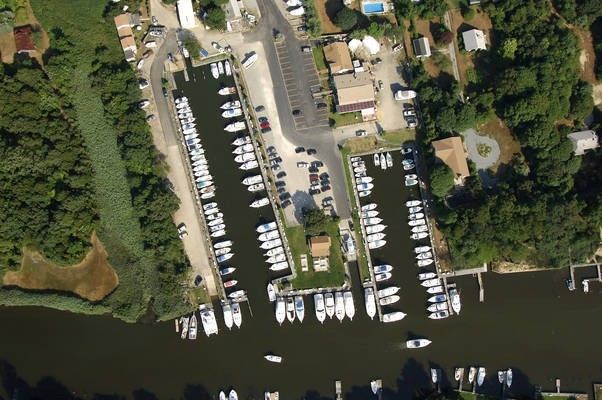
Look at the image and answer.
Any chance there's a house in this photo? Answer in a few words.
Yes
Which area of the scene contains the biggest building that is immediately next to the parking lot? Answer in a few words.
top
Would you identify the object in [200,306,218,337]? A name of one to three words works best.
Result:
boat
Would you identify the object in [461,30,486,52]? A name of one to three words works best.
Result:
house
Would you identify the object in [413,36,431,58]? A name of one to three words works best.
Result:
house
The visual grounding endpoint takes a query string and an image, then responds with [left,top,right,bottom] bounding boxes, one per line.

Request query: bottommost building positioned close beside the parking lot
[334,75,375,114]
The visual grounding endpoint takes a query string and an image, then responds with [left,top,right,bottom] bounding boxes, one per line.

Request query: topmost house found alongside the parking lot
[323,41,353,75]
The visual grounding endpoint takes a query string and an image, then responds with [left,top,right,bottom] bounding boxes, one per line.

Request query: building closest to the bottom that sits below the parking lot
[310,235,329,256]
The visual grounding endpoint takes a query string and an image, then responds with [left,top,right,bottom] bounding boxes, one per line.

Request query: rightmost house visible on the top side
[566,130,598,155]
